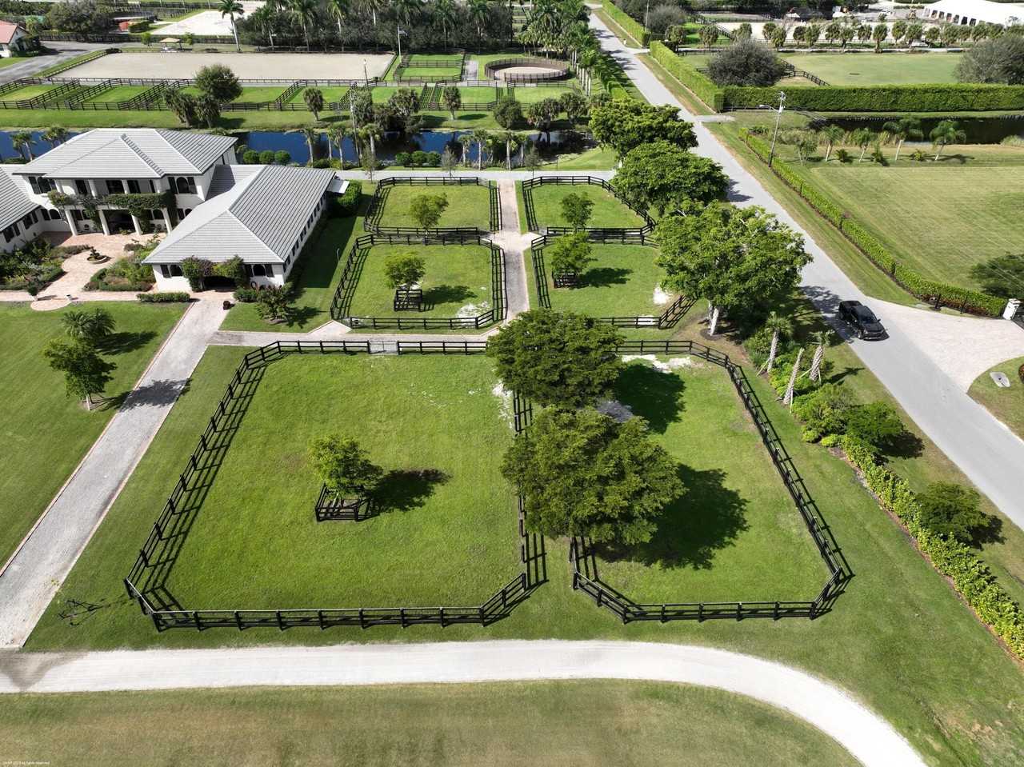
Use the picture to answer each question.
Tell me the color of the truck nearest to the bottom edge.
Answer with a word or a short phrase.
black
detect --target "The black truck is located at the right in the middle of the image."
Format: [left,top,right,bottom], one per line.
[836,301,890,339]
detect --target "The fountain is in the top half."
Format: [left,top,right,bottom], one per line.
[83,241,108,262]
